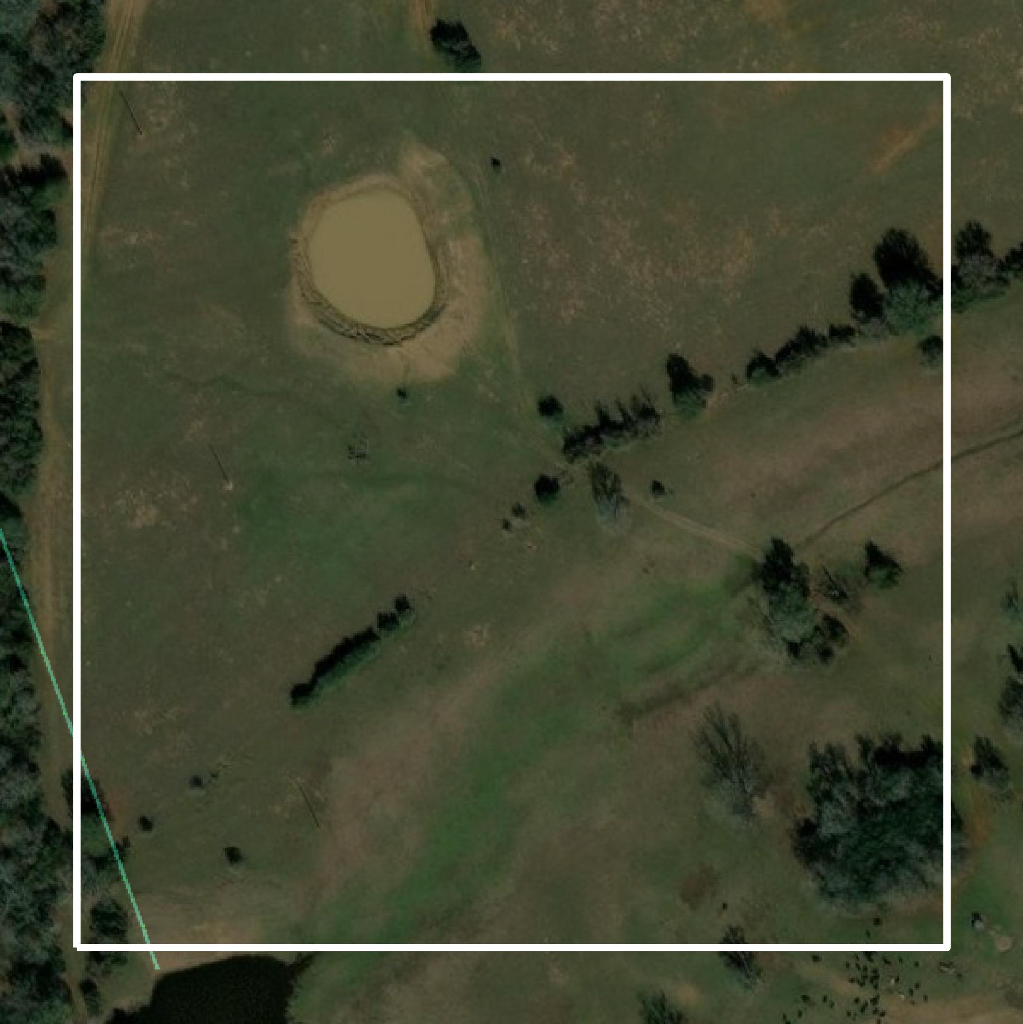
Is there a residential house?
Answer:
No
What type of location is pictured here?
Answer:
farmland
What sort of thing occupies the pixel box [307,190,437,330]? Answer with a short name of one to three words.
pond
